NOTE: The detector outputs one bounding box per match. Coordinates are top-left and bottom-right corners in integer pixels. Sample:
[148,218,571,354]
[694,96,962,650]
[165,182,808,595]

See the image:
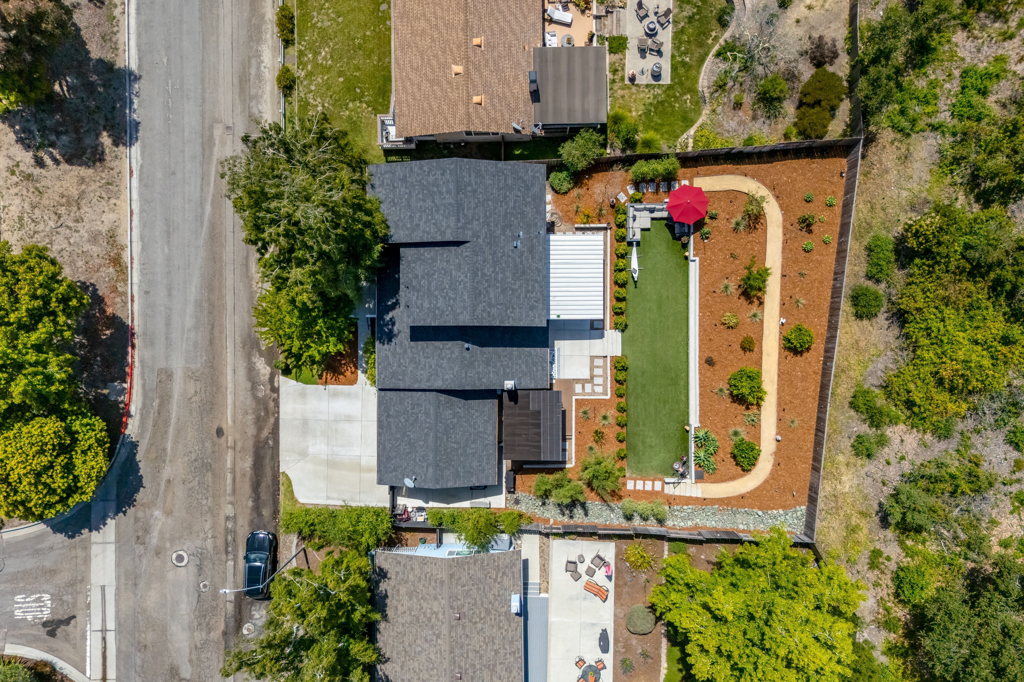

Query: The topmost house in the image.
[375,0,607,149]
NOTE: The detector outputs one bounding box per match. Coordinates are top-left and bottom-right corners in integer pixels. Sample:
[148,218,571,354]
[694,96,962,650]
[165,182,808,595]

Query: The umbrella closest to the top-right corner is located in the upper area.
[665,181,708,224]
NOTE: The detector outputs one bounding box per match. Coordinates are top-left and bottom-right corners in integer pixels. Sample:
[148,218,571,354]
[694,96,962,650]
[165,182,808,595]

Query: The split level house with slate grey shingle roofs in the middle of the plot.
[366,157,551,487]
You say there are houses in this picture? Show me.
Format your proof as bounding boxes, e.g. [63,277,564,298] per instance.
[366,157,551,487]
[375,0,607,149]
[373,539,523,682]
